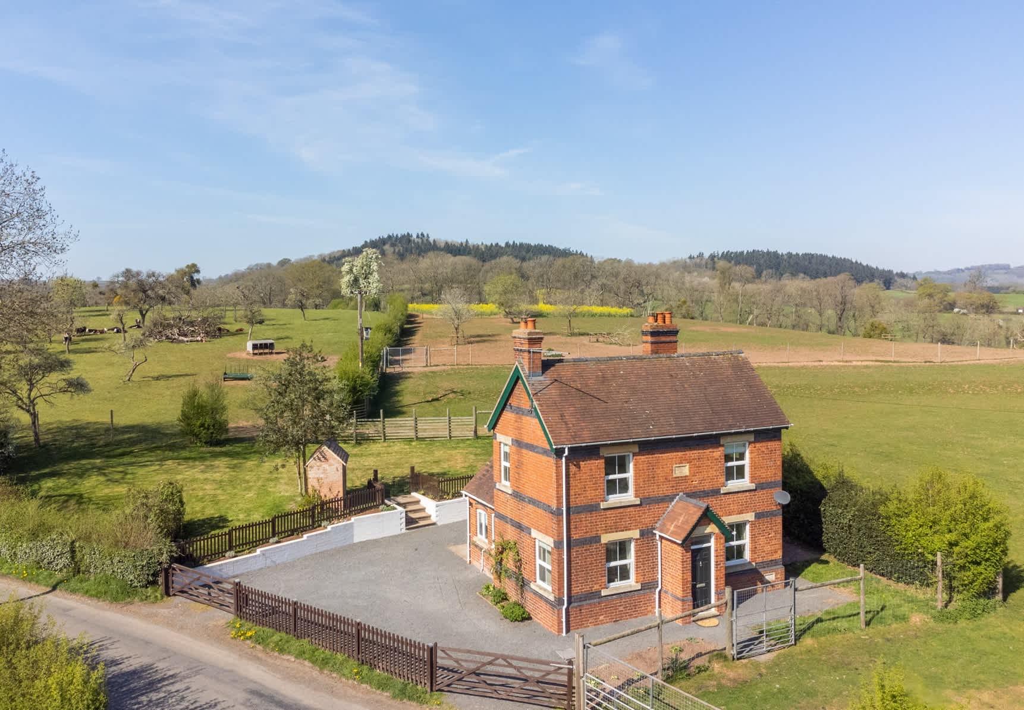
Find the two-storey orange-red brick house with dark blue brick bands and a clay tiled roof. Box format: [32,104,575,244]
[459,312,794,634]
